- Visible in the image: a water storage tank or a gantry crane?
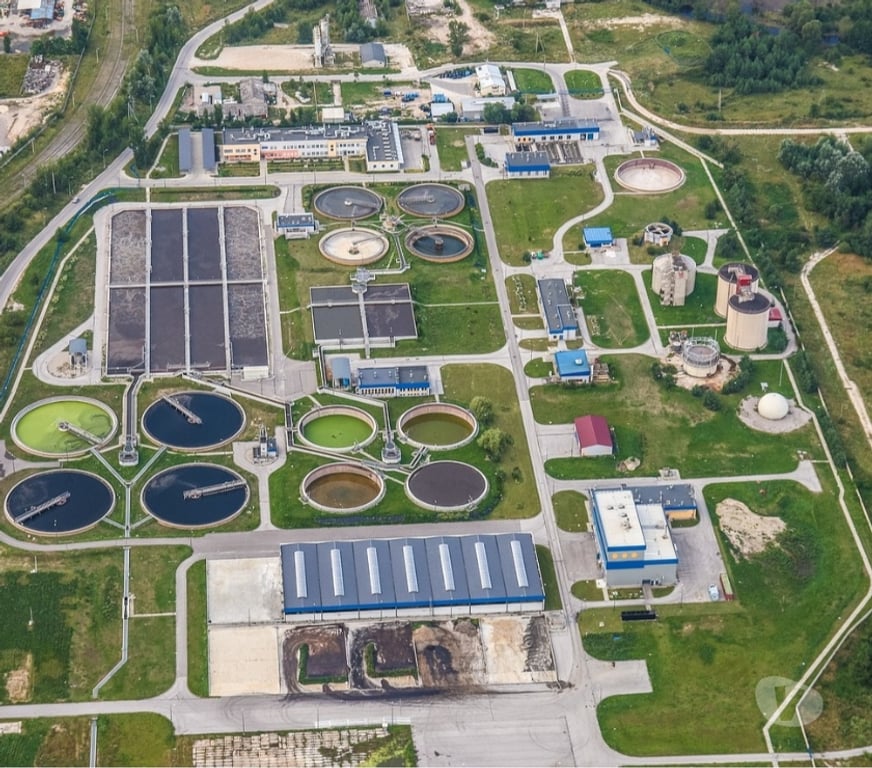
water storage tank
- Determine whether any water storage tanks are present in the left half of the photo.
Yes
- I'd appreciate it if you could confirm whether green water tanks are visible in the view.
Yes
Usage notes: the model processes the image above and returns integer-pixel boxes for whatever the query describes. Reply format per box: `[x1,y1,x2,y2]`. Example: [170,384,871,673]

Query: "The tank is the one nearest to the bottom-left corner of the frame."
[3,468,116,536]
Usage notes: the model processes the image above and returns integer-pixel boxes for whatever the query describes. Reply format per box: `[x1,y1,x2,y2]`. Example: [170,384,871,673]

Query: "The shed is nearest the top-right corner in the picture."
[625,127,668,151]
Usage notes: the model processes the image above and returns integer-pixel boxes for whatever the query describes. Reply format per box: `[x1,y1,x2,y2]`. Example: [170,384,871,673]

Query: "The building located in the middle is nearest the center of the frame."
[357,365,432,398]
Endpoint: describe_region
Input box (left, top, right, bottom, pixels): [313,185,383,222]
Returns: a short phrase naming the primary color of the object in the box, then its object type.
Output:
gray water tank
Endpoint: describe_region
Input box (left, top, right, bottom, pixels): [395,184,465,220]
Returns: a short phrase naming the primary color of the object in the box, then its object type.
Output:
gray water tank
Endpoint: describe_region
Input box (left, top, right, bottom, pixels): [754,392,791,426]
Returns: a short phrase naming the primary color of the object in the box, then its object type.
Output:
white storage tank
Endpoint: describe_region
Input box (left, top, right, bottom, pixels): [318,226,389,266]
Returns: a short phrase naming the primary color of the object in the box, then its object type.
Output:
white water tank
